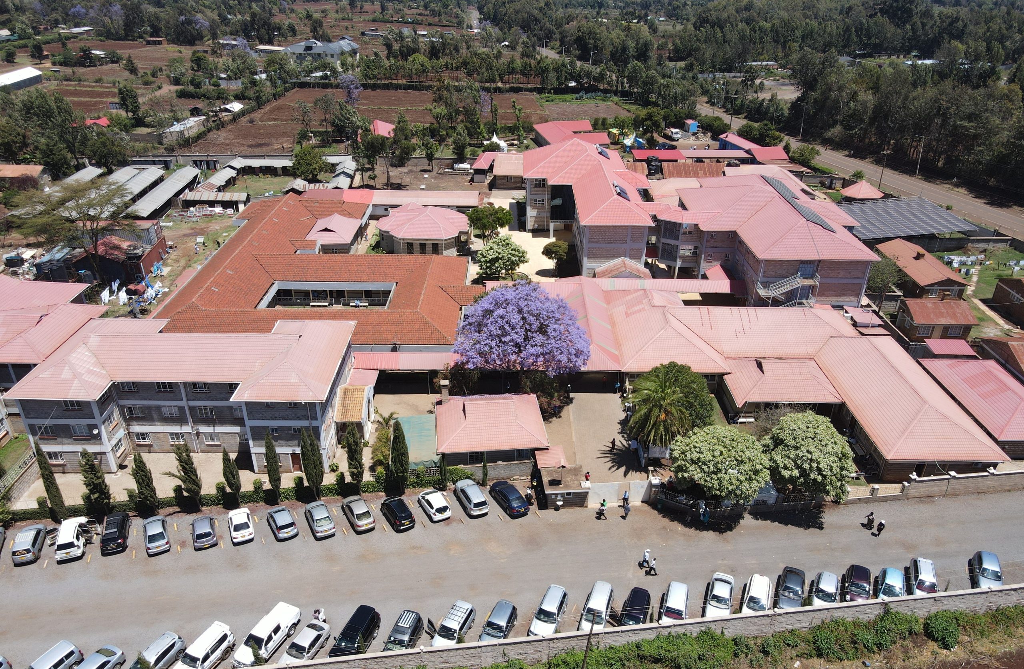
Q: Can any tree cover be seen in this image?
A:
Yes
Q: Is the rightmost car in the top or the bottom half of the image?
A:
bottom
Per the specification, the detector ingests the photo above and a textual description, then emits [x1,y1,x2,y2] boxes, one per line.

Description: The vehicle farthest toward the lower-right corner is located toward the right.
[973,549,1007,586]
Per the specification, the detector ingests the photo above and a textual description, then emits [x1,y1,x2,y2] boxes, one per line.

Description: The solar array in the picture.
[758,172,835,230]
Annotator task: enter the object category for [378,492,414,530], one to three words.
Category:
car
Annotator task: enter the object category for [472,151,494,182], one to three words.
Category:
shed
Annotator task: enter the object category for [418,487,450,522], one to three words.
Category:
car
